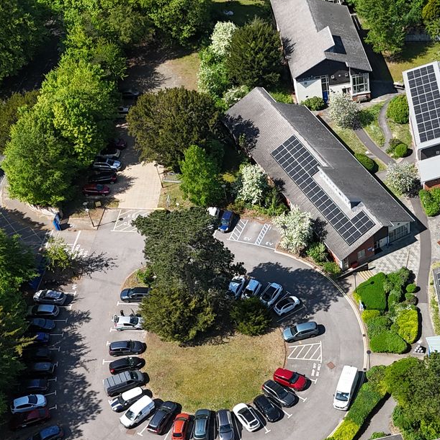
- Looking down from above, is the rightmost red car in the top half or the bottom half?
bottom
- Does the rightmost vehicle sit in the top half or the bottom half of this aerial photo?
bottom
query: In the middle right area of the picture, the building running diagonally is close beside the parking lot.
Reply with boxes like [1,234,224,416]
[225,83,415,269]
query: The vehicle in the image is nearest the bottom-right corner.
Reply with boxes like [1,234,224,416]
[334,365,358,411]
